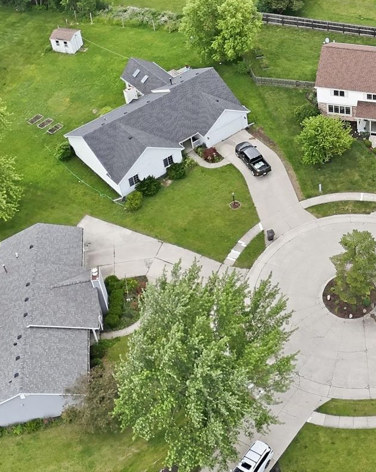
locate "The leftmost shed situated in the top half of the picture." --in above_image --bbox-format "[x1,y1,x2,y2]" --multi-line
[47,28,84,53]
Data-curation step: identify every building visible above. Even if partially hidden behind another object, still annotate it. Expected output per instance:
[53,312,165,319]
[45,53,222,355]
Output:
[314,36,376,134]
[0,221,114,425]
[64,58,255,203]
[47,28,84,53]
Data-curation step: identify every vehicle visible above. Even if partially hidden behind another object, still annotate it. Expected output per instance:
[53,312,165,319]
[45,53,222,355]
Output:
[234,141,270,177]
[232,438,274,472]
